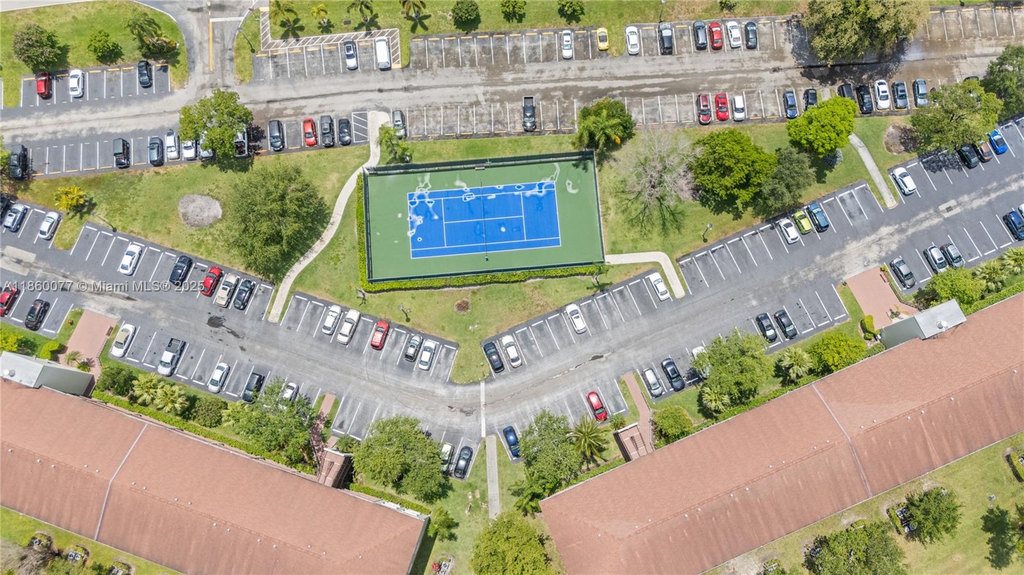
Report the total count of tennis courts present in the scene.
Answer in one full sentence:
In total, there is 1 tennis court in the scene.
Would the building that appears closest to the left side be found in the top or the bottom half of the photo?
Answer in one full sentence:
The building that appears closest to the left side is in the bottom half of the image.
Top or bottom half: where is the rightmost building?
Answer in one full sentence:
The rightmost building sits in the bottom half of the picture.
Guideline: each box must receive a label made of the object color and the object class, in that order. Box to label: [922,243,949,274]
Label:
white car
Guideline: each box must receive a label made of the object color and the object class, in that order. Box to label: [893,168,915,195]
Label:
white car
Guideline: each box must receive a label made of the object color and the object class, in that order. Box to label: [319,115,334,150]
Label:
gray vehicle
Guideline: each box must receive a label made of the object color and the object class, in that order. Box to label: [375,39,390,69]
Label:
white vehicle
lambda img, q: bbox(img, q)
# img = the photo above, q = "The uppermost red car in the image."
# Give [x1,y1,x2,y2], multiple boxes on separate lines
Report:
[708,24,722,50]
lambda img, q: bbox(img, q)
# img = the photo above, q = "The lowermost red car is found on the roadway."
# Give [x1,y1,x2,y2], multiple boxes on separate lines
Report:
[586,389,609,423]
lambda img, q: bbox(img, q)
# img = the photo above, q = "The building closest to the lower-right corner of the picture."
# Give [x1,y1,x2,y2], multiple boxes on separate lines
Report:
[538,289,1024,575]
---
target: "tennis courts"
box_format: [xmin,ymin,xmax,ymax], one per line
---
[368,161,600,280]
